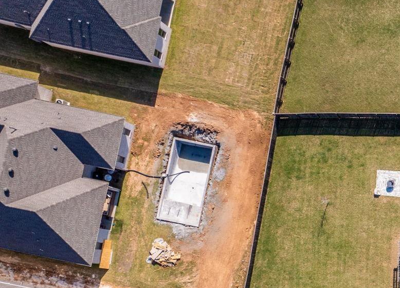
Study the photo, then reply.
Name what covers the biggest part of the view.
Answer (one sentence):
The largest share of the image is taken up by grass.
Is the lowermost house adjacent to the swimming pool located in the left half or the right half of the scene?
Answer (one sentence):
It is on the left.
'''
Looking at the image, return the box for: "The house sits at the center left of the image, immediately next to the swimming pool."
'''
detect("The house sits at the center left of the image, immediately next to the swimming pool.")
[0,72,137,267]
